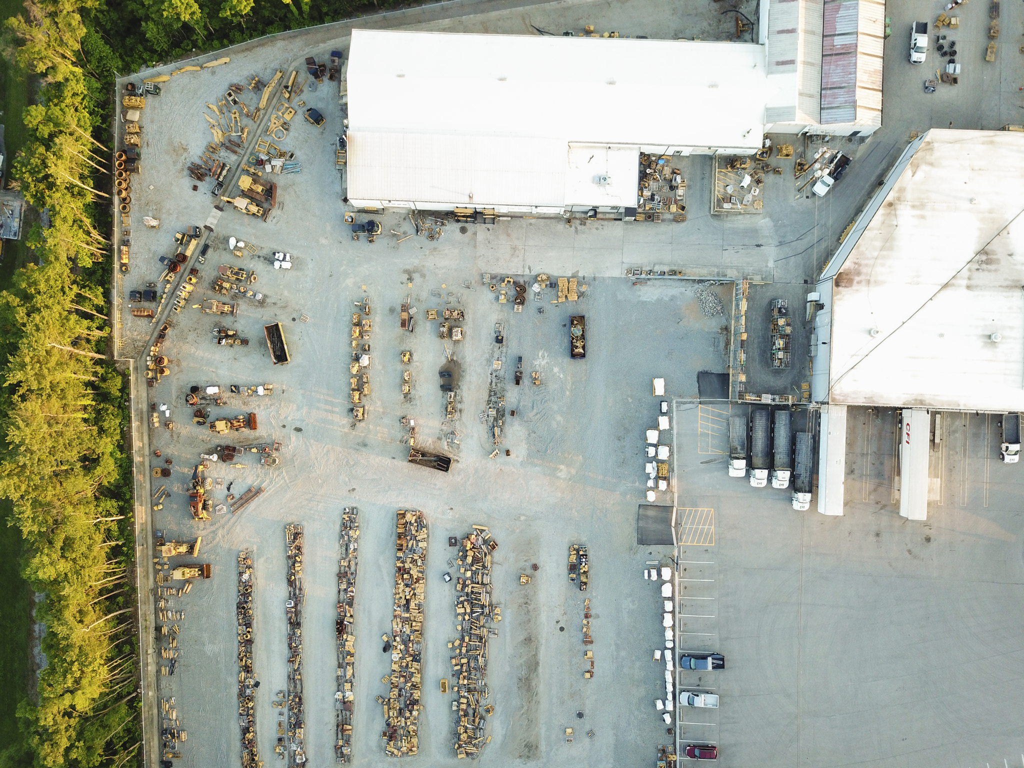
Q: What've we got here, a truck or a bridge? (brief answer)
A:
truck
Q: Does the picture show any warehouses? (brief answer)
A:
Yes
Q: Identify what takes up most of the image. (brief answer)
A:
paved ground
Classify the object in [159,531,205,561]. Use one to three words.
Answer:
work vehicle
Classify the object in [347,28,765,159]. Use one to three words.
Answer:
warehouse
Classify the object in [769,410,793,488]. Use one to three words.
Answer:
truck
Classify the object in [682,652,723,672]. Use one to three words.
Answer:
vehicle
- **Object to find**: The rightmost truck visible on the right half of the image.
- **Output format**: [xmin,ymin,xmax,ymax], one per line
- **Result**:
[991,414,1021,462]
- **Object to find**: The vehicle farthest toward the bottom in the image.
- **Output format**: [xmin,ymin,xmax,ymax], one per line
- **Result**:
[684,743,719,762]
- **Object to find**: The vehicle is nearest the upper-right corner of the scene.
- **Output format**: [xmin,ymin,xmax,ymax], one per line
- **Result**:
[908,21,930,66]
